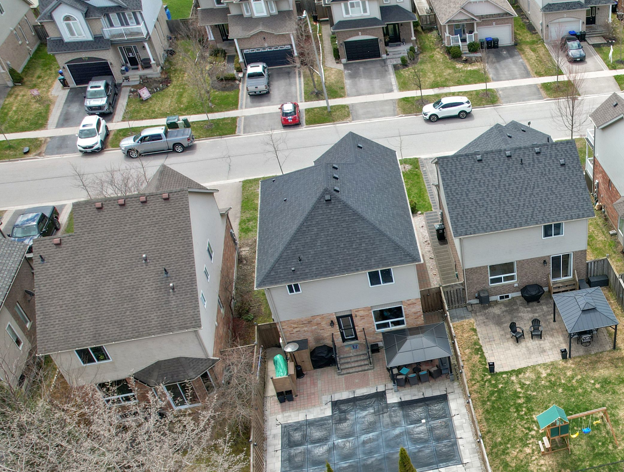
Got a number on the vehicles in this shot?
eight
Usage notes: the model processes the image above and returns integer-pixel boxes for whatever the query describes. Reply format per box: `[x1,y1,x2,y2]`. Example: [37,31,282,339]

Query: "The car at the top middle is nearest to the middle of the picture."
[276,98,302,123]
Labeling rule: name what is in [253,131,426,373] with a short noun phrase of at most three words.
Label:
house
